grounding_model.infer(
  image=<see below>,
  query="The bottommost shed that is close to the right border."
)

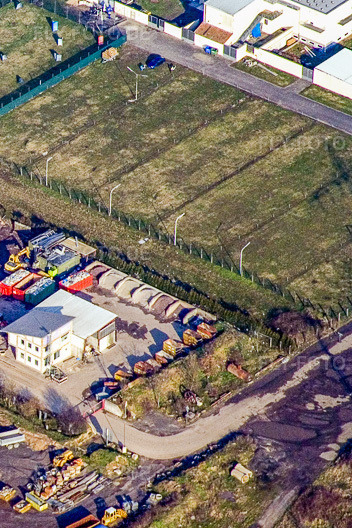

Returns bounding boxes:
[314,47,352,99]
